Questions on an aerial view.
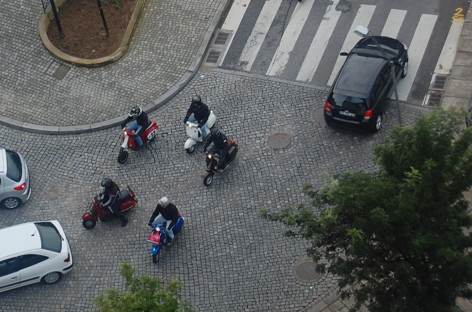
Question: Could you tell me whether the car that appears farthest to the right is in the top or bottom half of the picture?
top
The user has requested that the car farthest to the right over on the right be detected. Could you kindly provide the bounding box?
[319,36,410,138]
